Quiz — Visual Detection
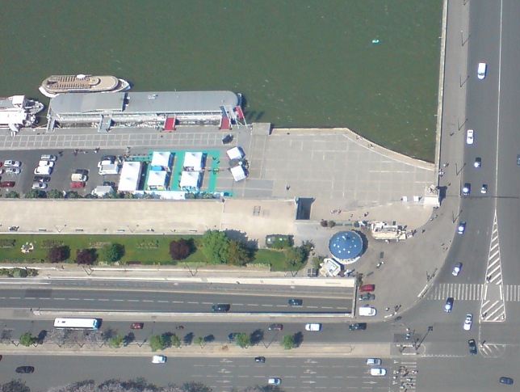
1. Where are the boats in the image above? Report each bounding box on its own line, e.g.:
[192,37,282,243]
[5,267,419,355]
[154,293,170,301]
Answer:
[39,71,130,97]
[0,90,45,114]
[0,111,35,128]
